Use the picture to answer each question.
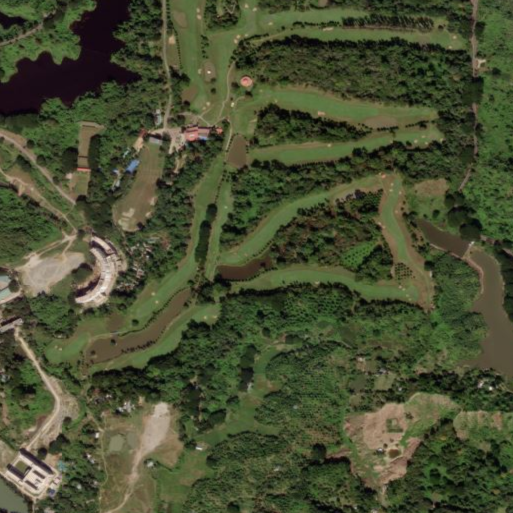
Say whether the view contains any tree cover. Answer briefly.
Yes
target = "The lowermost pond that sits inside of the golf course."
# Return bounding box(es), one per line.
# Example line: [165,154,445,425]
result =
[85,288,193,363]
